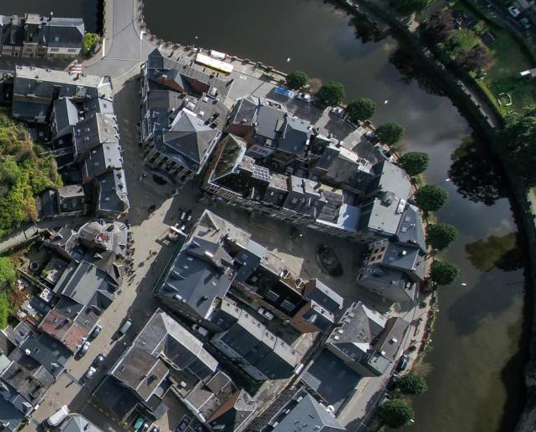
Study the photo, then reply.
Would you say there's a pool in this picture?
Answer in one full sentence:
No, there isn't any pool down there.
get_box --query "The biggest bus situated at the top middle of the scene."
[192,47,236,76]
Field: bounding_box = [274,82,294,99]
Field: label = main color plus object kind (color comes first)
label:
blue vehicle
